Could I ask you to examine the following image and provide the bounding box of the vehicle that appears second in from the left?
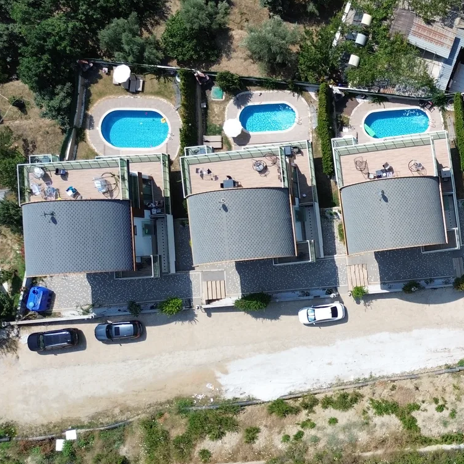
[96,320,146,343]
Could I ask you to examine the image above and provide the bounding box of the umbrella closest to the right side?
[222,117,247,140]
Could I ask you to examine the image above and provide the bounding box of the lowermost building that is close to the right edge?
[332,130,464,258]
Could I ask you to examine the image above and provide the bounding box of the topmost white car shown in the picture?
[299,302,347,327]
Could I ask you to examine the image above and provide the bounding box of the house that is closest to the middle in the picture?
[179,140,328,270]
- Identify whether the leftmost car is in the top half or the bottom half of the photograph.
bottom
